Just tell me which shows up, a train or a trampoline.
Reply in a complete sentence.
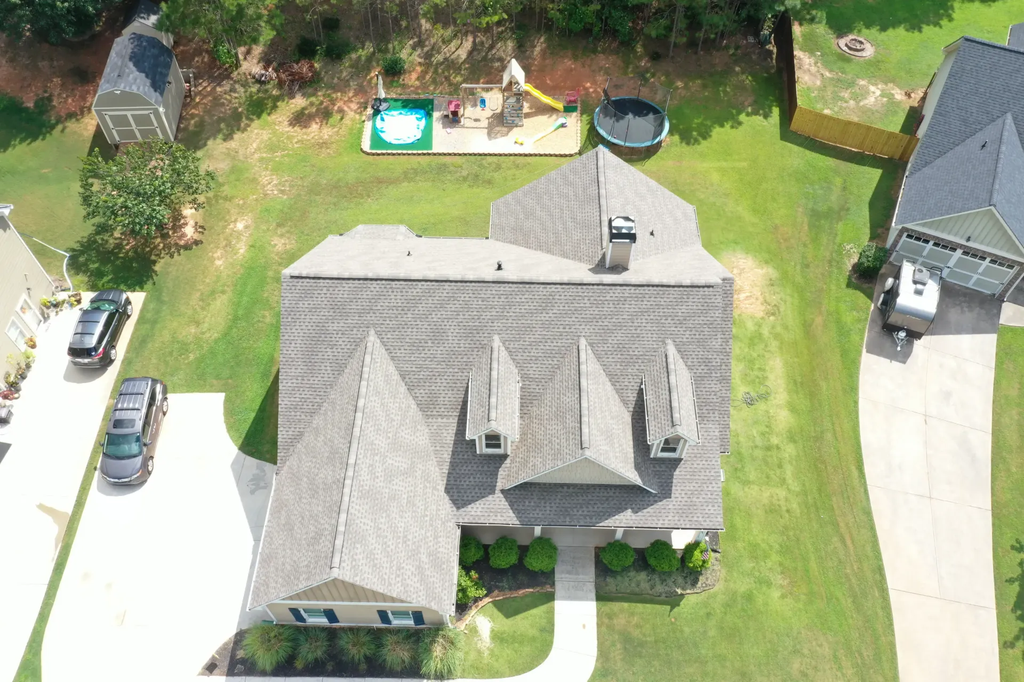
The image shows a trampoline.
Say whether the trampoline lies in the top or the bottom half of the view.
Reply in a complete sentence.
The top half of the photo is where the trampoline is.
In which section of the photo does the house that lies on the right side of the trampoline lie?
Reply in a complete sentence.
The house that lies on the right side of the trampoline is located in the top right region of the scene.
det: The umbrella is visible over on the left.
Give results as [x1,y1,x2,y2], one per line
[370,67,391,109]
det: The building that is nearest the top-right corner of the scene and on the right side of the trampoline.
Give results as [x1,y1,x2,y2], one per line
[884,31,1024,301]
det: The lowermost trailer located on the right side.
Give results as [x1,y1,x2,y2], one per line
[875,257,943,352]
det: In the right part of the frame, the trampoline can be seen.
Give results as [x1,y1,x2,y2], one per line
[594,76,669,156]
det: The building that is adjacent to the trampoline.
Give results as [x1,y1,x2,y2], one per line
[245,146,736,630]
